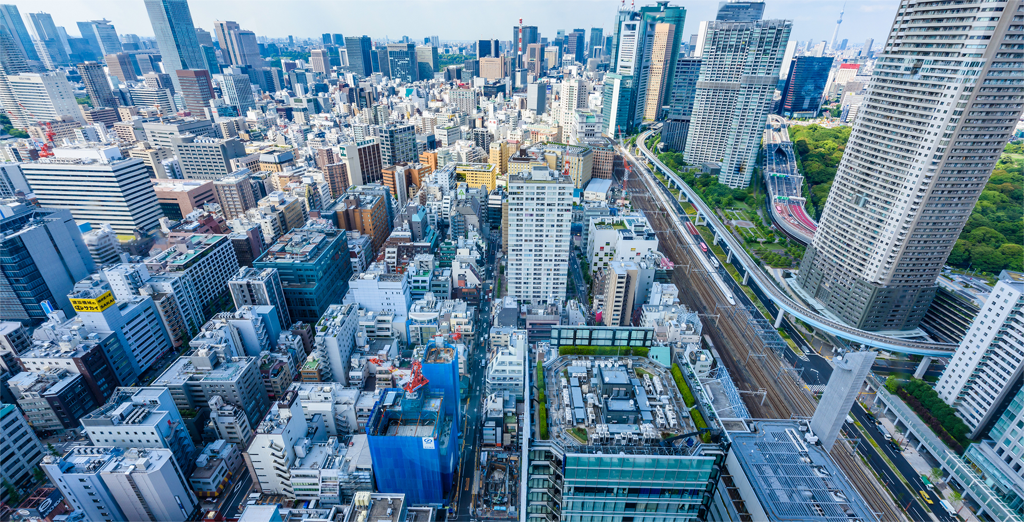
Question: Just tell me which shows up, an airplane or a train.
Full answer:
The image shows a train.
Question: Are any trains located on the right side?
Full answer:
Yes, there is a train on the right side.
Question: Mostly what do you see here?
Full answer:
Most of the picture is covered by buildings.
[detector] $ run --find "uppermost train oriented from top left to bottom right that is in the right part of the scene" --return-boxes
[633,156,736,305]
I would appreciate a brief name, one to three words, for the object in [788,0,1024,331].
building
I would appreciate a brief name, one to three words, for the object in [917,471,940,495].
truck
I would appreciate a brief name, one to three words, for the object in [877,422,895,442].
vehicle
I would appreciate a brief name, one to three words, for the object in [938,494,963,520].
truck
